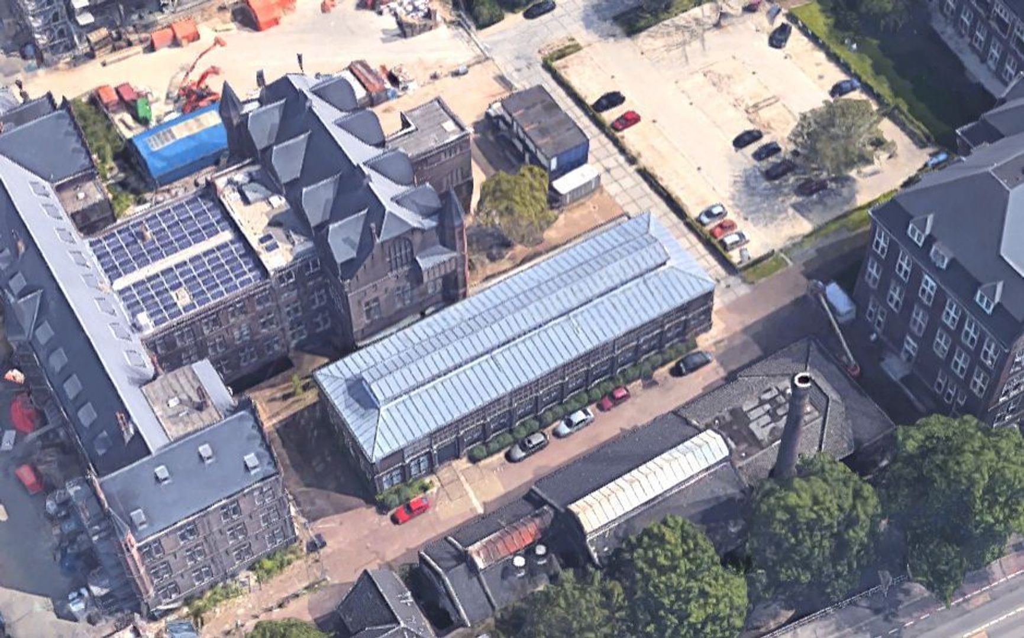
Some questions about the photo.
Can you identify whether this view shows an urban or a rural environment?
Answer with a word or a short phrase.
urban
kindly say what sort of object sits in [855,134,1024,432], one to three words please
building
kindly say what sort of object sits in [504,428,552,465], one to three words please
car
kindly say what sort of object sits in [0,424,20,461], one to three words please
car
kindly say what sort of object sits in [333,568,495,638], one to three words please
house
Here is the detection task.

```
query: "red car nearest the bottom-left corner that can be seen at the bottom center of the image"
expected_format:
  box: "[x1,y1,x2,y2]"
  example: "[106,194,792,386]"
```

[388,494,434,528]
